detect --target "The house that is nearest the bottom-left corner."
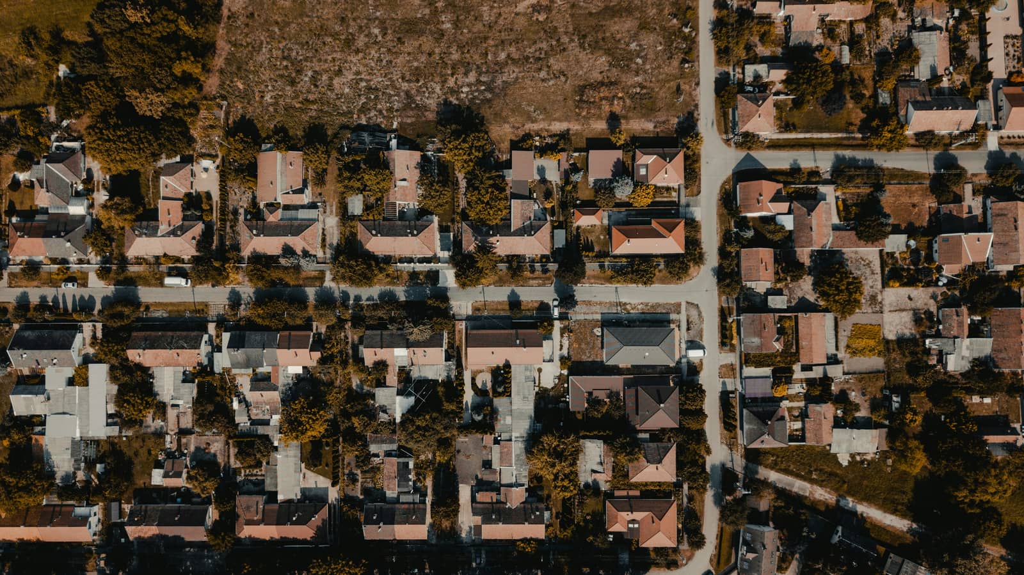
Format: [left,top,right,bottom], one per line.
[0,504,100,542]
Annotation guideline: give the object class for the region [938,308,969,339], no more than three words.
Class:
house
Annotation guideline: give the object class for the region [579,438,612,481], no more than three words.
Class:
building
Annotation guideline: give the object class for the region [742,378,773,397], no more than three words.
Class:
shed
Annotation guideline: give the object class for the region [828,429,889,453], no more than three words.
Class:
barn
